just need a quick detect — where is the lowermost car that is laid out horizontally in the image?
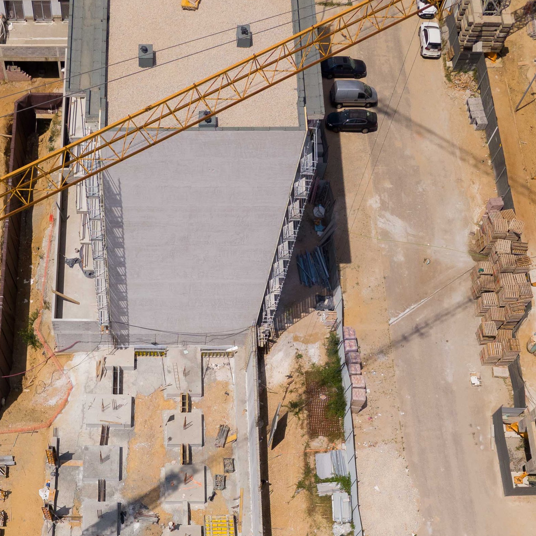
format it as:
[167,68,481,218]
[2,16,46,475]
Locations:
[326,110,378,135]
